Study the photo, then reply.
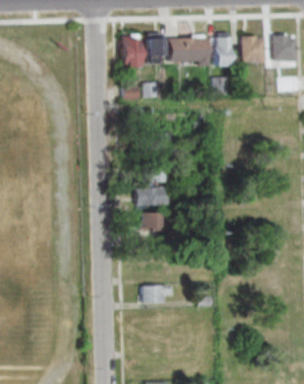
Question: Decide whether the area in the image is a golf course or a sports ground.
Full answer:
What you see here is a sports ground.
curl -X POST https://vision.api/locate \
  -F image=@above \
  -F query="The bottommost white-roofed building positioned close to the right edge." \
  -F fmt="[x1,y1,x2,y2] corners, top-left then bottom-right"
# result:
[276,76,300,94]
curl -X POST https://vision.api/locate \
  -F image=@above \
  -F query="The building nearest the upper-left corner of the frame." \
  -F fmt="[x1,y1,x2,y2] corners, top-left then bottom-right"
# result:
[120,32,147,69]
